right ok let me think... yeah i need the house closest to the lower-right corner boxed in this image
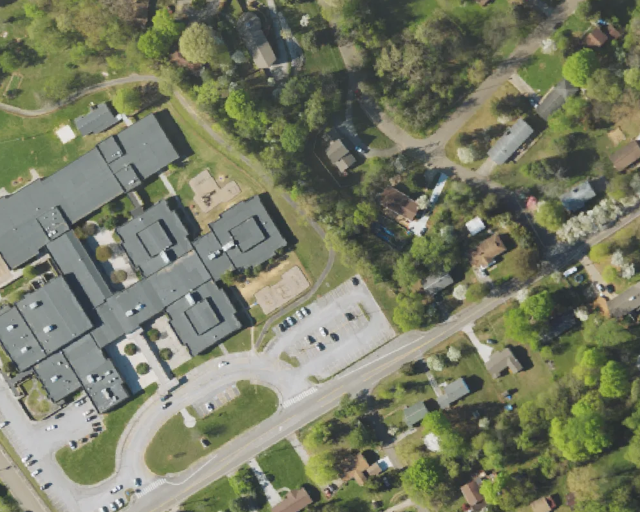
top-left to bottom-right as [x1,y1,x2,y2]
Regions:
[526,494,554,512]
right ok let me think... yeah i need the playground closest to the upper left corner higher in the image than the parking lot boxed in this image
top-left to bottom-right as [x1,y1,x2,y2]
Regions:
[189,169,242,212]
